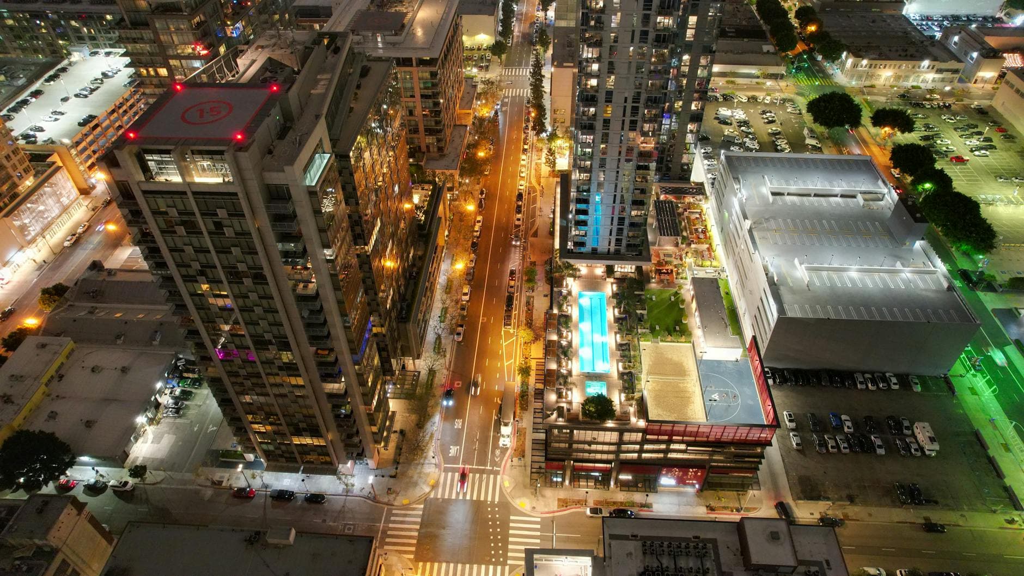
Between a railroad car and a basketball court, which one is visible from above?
basketball court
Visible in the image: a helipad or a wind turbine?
helipad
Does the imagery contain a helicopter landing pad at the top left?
Yes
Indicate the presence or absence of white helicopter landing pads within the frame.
No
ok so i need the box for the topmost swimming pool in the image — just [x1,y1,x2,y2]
[577,290,613,373]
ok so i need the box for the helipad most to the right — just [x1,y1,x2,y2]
[366,12,417,32]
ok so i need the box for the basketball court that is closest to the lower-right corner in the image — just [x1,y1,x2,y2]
[697,354,769,423]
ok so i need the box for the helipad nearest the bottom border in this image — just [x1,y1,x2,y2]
[105,84,289,148]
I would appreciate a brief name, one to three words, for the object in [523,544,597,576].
building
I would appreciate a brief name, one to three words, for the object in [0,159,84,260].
building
